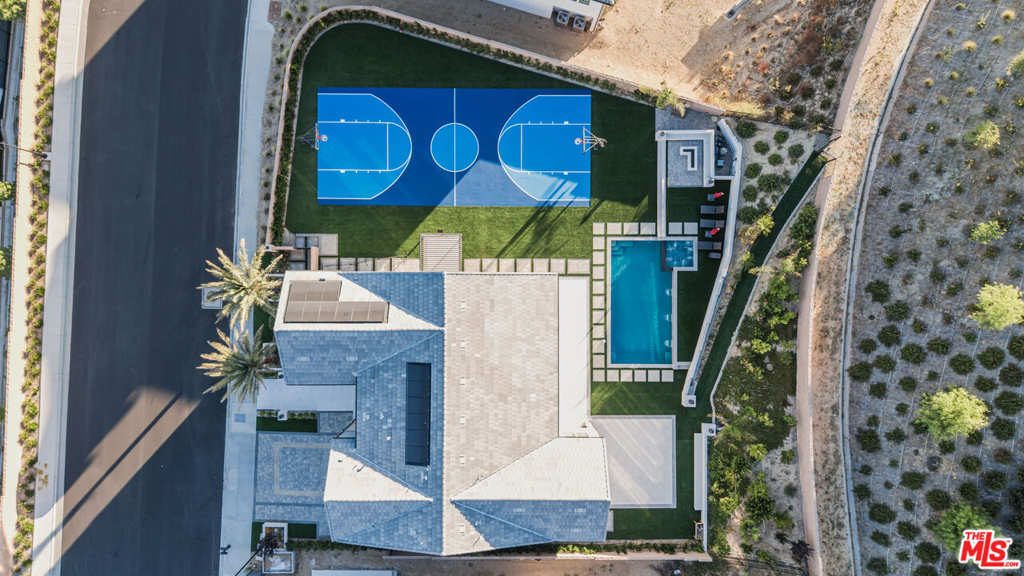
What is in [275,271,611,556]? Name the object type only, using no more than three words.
house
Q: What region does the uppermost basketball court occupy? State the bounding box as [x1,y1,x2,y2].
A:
[318,88,591,206]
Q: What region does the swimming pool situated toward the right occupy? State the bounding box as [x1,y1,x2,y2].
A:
[606,236,698,369]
